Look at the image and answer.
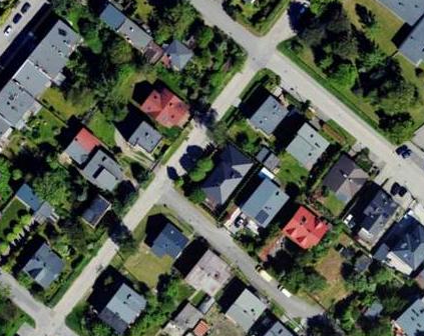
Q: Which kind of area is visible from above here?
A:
residential area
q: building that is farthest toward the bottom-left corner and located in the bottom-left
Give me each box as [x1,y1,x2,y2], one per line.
[24,244,64,288]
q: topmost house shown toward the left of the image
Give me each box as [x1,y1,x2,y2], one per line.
[101,3,125,30]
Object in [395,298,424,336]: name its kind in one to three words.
house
